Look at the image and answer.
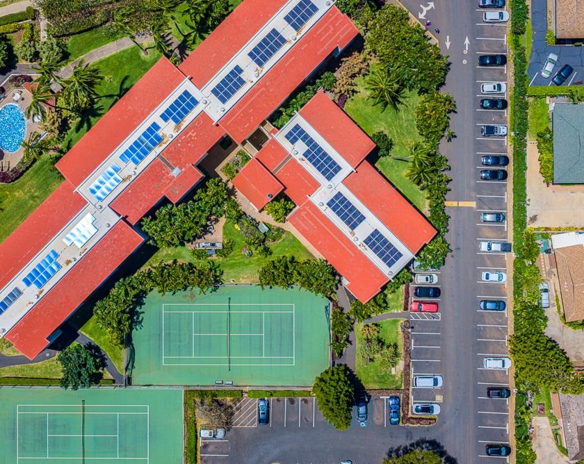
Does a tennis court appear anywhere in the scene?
Yes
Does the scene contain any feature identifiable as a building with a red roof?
Yes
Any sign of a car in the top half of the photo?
Yes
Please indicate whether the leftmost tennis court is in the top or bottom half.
bottom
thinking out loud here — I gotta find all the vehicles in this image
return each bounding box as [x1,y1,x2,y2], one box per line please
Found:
[202,427,224,439]
[479,54,506,66]
[413,259,439,271]
[415,374,440,388]
[539,52,559,79]
[480,168,507,182]
[479,241,511,253]
[257,398,270,425]
[388,397,401,422]
[552,62,572,87]
[482,9,509,22]
[485,386,511,400]
[479,124,510,137]
[482,356,511,370]
[478,0,505,9]
[538,281,552,309]
[479,300,506,312]
[479,82,507,94]
[480,271,507,283]
[479,211,506,224]
[413,272,439,286]
[415,403,438,416]
[411,301,437,314]
[480,98,507,110]
[414,287,440,299]
[481,154,508,167]
[485,444,512,457]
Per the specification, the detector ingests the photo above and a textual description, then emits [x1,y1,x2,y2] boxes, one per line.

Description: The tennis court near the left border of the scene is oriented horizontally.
[0,388,182,464]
